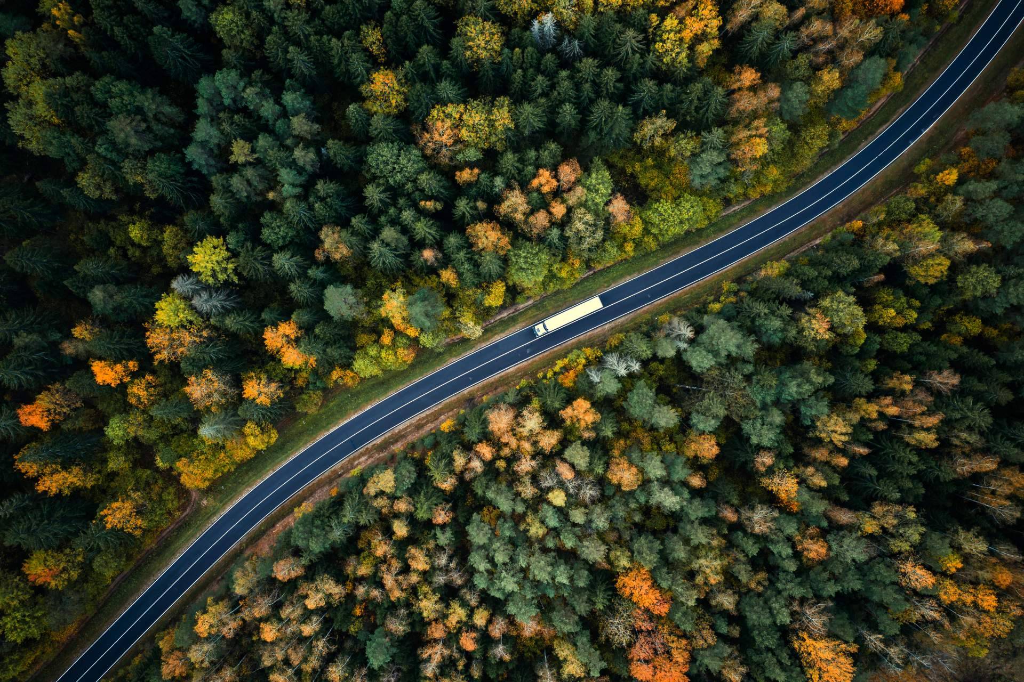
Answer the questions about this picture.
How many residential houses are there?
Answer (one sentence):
The count of residential houses is 0.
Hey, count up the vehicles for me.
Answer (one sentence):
The photo contains exactly 1 vehicle.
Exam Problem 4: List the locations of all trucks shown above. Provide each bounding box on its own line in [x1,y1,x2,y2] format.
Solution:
[531,297,603,338]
